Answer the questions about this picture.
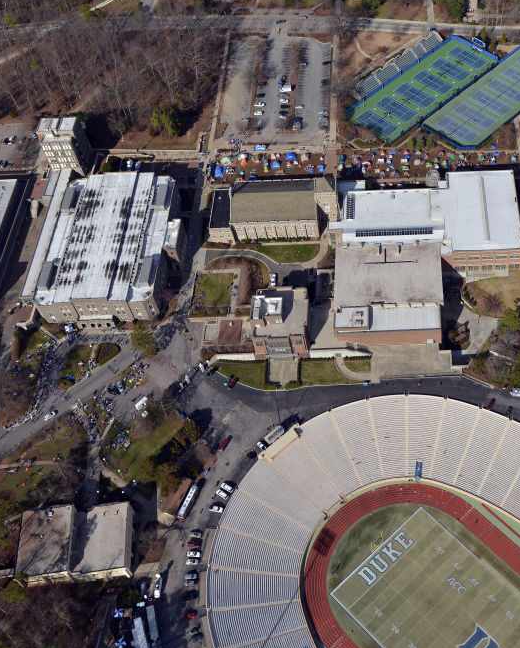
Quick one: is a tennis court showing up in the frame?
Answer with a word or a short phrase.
Yes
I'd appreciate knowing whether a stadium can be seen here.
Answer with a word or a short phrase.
Yes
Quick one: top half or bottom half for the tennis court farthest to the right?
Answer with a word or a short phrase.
top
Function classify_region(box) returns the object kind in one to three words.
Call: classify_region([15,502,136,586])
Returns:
building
